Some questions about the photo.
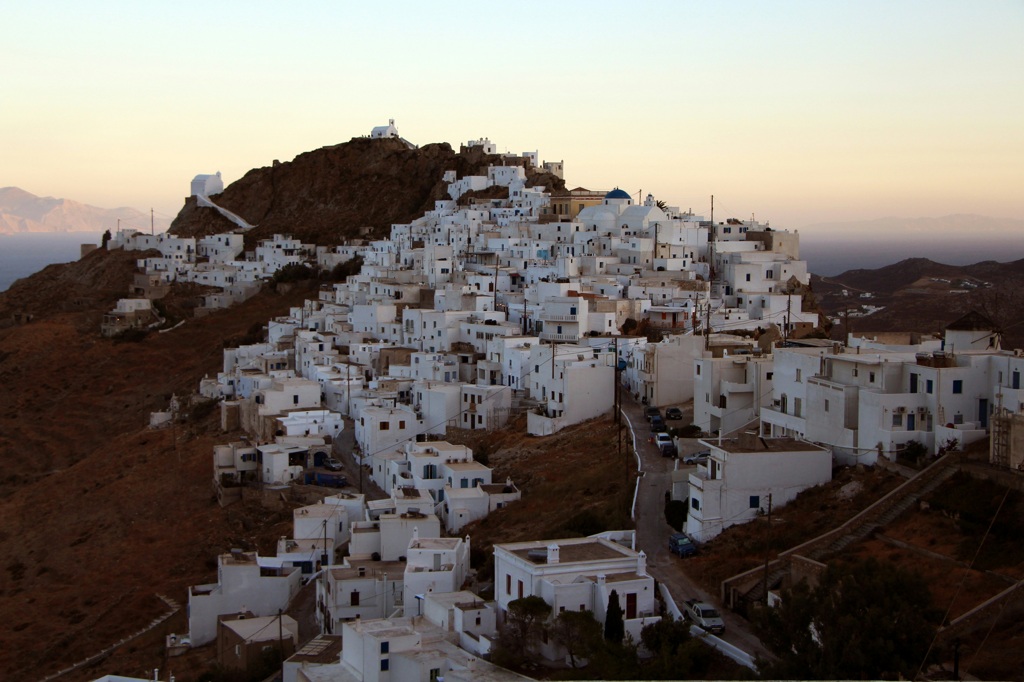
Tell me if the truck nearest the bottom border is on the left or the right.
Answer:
right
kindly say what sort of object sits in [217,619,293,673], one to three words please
house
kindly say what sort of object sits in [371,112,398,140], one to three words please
building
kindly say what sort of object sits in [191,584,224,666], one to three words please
house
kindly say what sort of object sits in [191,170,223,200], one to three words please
building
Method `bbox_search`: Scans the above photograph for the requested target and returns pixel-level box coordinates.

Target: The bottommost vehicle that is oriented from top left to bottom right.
[672,595,731,636]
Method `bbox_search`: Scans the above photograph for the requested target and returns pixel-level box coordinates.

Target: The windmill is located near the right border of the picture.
[943,302,1014,349]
